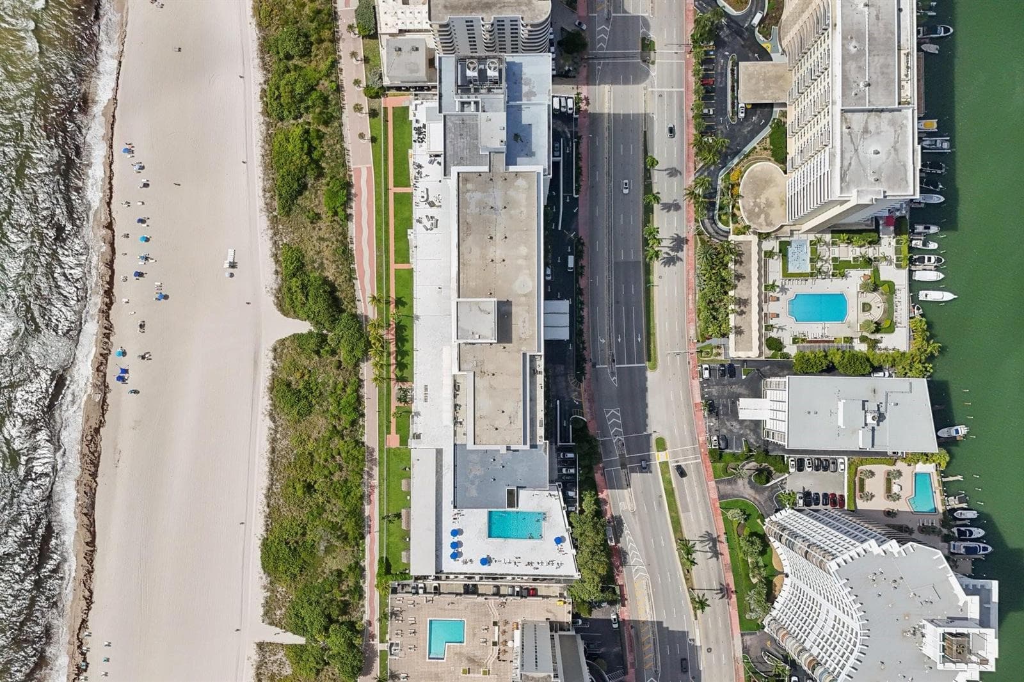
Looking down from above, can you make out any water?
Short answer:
Yes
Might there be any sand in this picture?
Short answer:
Yes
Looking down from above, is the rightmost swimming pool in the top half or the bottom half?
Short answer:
bottom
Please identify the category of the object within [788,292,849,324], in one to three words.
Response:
swimming pool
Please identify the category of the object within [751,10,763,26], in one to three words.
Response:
vehicle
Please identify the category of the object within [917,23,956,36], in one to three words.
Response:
boat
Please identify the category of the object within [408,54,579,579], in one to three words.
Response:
building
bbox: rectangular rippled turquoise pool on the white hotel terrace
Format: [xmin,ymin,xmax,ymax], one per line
[486,509,545,540]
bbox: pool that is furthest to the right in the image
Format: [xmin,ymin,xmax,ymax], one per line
[906,471,938,514]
